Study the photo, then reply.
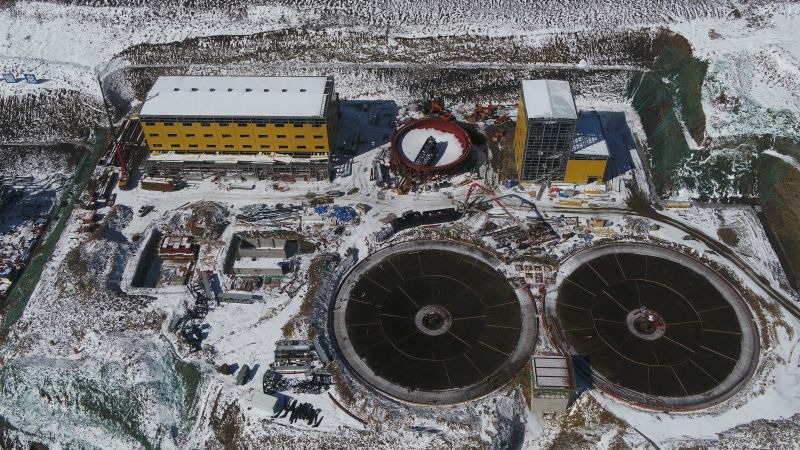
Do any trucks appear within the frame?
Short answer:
Yes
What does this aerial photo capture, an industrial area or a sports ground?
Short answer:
industrial area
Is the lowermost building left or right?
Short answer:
right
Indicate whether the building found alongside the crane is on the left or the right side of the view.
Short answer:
left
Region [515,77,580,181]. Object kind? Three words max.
building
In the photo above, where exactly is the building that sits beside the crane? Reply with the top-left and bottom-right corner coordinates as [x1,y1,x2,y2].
[138,75,338,184]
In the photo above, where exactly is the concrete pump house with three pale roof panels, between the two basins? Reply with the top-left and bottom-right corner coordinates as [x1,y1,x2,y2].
[528,354,584,420]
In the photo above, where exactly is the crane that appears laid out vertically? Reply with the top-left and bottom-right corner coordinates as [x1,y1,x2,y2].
[97,76,134,187]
